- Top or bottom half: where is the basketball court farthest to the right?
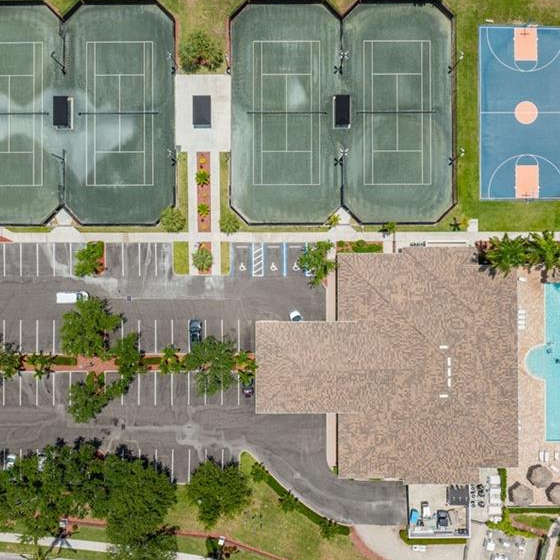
top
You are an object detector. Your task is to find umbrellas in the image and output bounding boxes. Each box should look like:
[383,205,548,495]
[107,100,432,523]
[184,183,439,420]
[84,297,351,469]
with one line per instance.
[548,484,560,507]
[509,483,534,507]
[529,465,553,489]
